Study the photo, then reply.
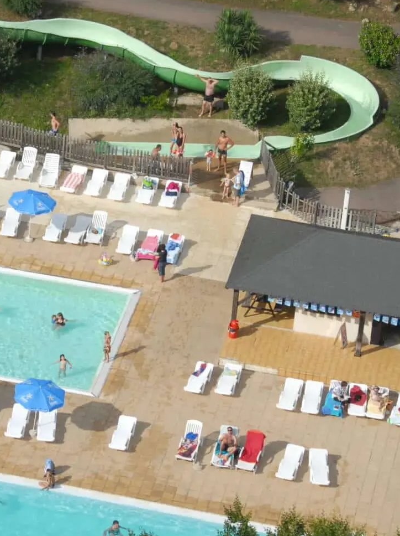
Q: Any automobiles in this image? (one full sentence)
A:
No, there's no automobile here.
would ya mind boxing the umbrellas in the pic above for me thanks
[14,383,64,438]
[9,193,53,243]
